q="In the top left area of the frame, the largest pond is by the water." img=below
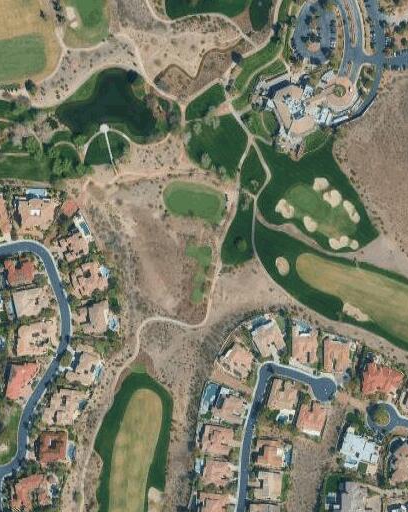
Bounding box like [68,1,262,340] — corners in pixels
[58,67,156,147]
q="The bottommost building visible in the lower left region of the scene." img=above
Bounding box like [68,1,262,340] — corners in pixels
[10,469,55,512]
